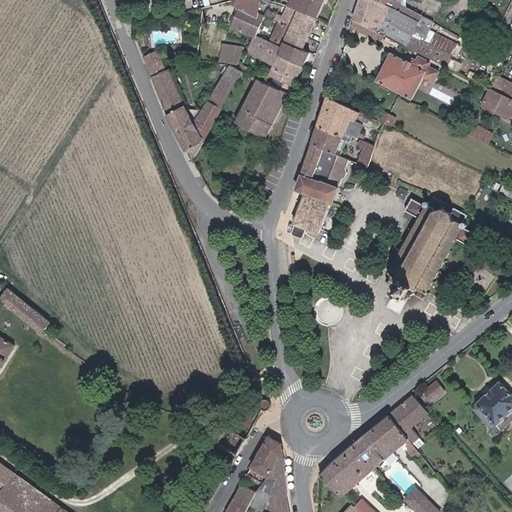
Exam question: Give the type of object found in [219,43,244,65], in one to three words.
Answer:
building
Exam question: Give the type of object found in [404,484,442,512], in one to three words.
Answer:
barn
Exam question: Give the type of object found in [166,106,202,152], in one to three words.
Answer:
house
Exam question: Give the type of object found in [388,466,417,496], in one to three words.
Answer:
swimming pool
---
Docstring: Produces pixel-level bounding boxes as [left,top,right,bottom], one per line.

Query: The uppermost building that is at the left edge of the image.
[0,288,50,336]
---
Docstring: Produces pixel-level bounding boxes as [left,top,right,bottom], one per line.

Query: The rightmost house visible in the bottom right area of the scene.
[472,382,512,440]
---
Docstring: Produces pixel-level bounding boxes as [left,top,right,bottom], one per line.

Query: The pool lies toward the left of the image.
[150,26,181,48]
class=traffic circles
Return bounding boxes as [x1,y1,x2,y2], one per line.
[281,380,362,466]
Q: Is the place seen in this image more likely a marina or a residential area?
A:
residential area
